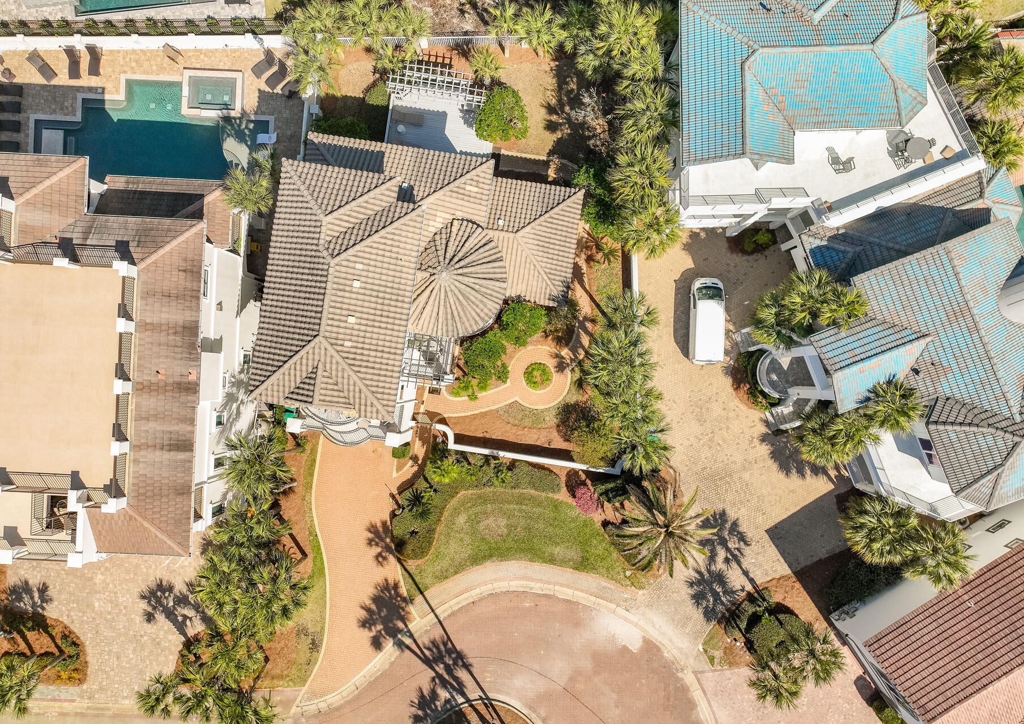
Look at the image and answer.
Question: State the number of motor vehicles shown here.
1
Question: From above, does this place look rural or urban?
urban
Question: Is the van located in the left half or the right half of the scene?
right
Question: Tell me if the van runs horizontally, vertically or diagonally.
vertically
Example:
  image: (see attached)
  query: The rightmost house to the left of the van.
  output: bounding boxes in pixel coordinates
[247,131,586,446]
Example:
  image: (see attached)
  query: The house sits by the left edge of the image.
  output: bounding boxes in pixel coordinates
[0,151,262,566]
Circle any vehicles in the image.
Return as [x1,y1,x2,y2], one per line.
[687,277,728,364]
